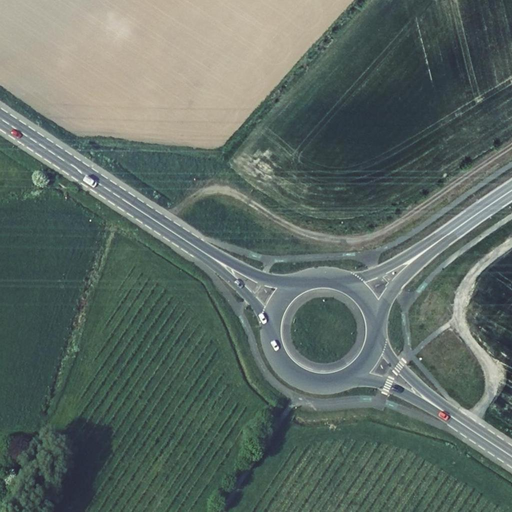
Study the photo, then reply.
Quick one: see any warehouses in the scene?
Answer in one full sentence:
No, no warehouse can be seen from above.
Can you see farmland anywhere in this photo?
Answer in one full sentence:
Yes, farmland shows up in the scene.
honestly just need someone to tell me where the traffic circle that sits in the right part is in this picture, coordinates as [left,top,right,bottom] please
[260,268,386,394]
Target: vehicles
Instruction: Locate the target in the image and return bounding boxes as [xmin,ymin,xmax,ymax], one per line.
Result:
[439,411,450,420]
[392,384,404,392]
[258,312,266,324]
[10,128,21,137]
[270,340,278,350]
[82,174,97,186]
[234,278,244,288]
